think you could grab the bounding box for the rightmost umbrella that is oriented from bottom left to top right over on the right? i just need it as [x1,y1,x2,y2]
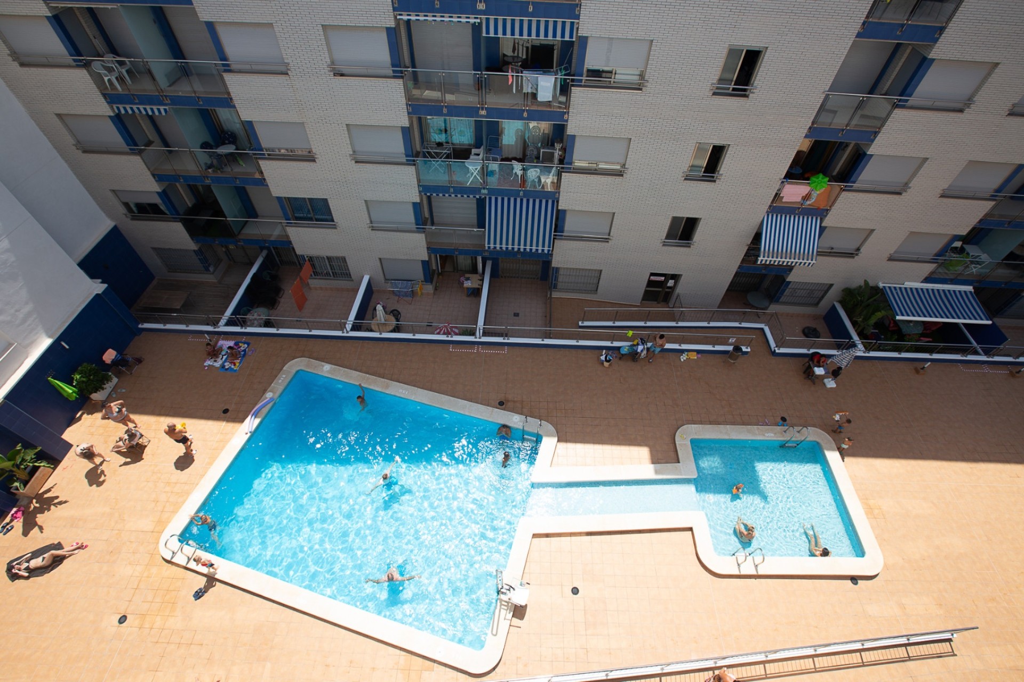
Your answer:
[833,338,870,379]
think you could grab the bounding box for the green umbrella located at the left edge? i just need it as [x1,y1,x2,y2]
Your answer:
[44,376,75,396]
